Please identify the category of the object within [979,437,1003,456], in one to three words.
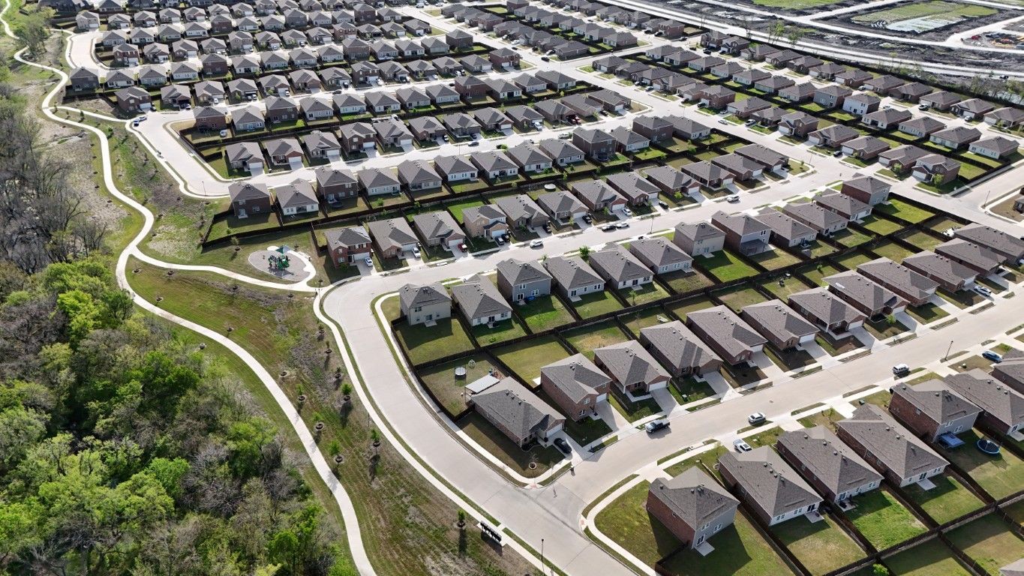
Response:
trampoline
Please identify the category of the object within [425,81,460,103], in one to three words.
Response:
house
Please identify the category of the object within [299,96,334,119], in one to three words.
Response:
house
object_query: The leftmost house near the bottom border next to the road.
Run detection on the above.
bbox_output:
[660,460,746,551]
